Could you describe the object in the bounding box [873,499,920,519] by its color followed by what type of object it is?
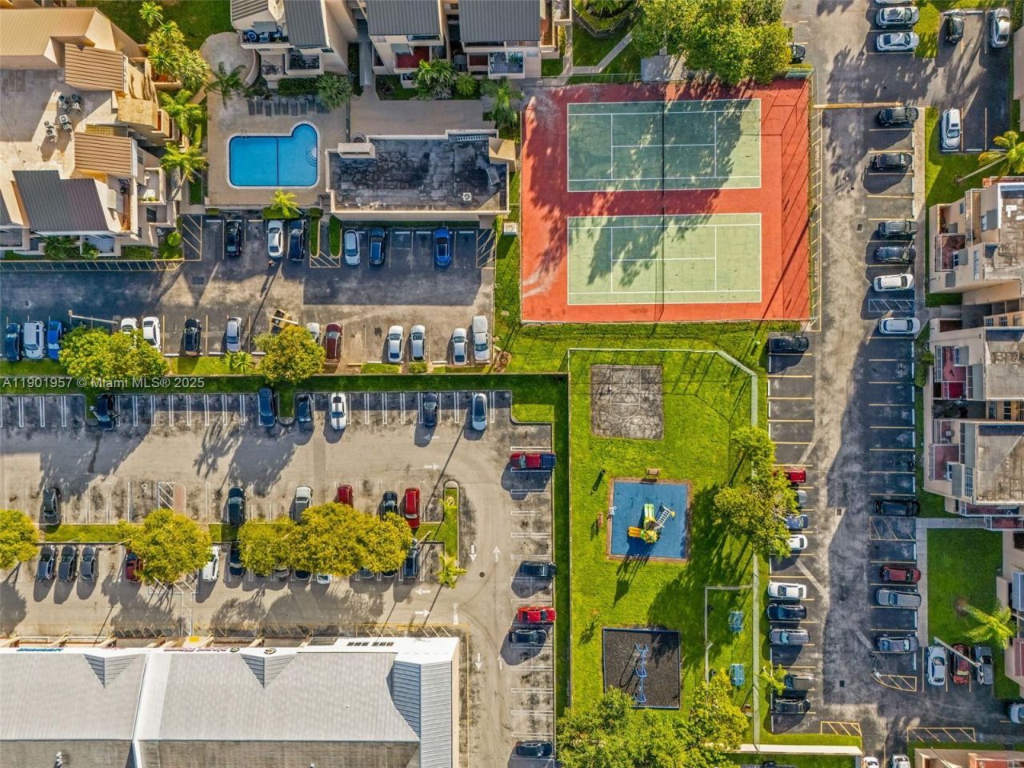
black vehicle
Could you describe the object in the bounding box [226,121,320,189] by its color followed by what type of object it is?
blue swimming pool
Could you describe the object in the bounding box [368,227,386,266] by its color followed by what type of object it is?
blue car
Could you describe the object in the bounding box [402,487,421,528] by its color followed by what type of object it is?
red car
